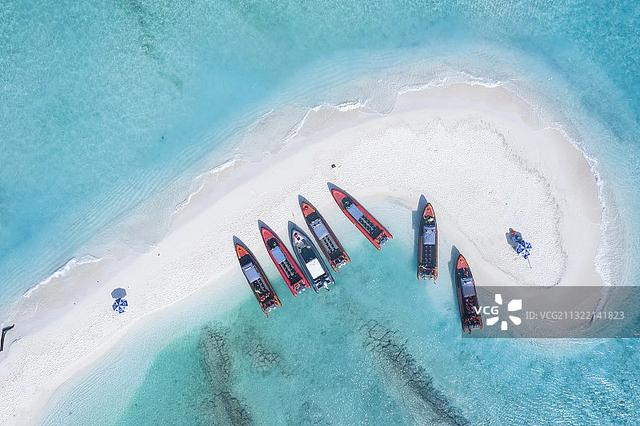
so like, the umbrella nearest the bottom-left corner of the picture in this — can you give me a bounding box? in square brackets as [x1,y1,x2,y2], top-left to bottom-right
[111,296,129,315]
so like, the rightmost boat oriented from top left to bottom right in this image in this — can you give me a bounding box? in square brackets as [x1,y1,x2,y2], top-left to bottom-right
[331,189,391,249]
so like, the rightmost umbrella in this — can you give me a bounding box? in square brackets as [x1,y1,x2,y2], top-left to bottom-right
[515,240,534,259]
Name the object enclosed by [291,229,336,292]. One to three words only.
boat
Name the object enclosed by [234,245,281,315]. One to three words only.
boat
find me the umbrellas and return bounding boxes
[515,240,534,259]
[111,296,129,315]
